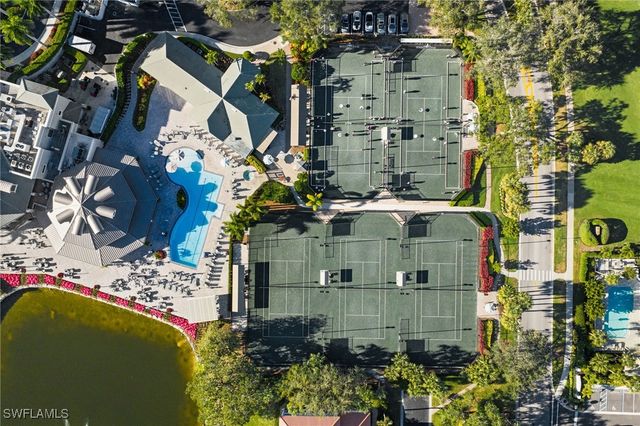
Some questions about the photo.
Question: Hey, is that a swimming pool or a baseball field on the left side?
swimming pool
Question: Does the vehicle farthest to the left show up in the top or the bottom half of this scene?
top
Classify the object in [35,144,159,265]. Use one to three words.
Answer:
building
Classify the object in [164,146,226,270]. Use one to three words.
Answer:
swimming pool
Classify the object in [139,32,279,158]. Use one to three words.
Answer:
building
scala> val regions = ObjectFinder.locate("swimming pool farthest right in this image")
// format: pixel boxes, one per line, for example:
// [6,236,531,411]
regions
[605,285,635,339]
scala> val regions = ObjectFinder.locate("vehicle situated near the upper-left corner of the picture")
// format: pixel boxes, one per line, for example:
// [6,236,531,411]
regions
[67,34,98,55]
